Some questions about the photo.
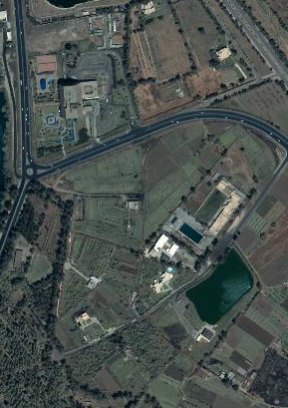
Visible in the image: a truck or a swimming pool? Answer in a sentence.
I can see a swimming pool in this picture.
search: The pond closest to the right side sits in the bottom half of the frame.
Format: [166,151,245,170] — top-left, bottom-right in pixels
[186,247,253,324]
